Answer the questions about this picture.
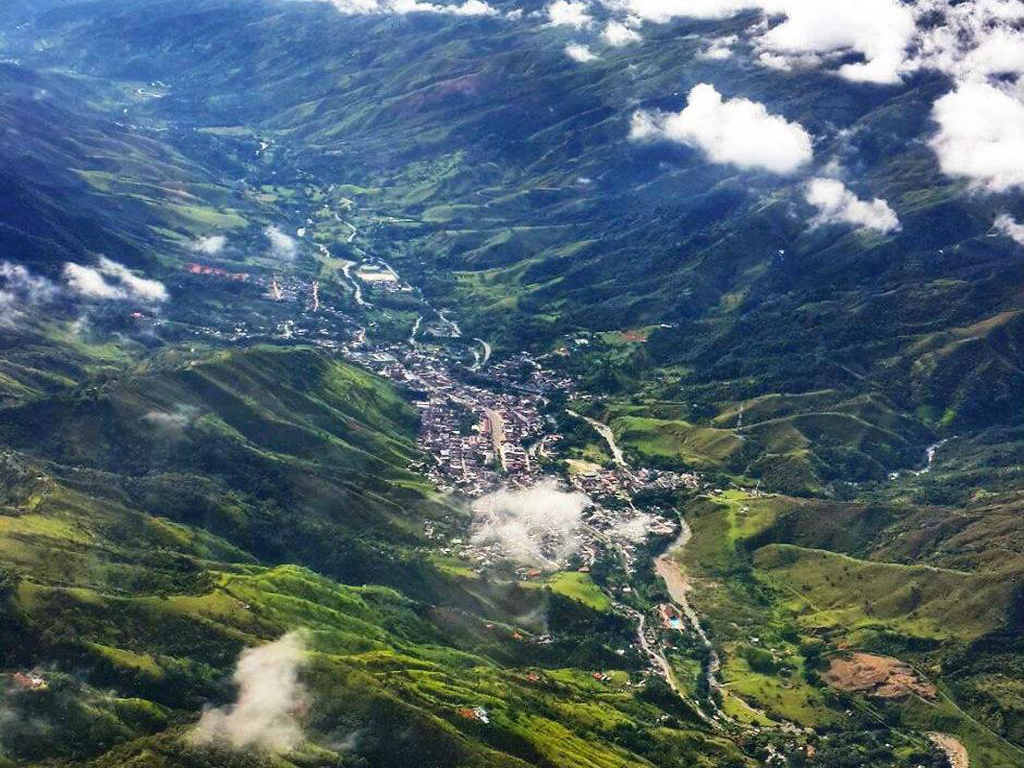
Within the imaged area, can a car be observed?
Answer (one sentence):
No, no car can be seen from above.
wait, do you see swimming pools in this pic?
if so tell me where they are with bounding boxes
[664,618,686,630]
